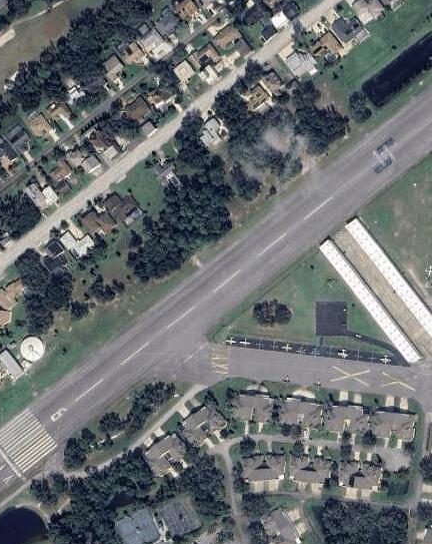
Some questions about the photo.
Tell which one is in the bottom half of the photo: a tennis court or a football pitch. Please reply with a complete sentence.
What appears in the bottom half of the photo is a tennis court.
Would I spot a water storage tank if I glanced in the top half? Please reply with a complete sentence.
No, there is no water storage tank in the top half.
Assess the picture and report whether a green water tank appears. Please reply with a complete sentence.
No, the scene contains no green water tank.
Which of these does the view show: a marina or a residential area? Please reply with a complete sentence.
This looks like a residential area.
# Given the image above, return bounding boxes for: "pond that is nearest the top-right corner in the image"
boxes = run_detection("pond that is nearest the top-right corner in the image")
[363,32,432,108]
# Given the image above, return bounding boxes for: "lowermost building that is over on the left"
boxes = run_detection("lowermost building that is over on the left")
[146,437,190,478]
